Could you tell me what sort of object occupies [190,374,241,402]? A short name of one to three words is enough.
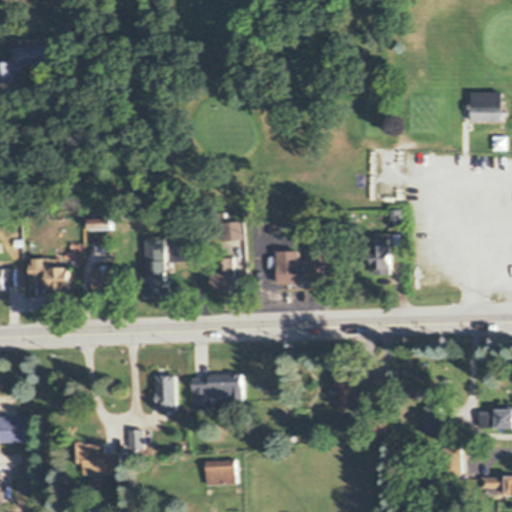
house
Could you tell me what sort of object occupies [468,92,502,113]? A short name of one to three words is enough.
building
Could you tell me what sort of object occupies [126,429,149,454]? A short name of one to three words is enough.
building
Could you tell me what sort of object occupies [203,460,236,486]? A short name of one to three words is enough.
barn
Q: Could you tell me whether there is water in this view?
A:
No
